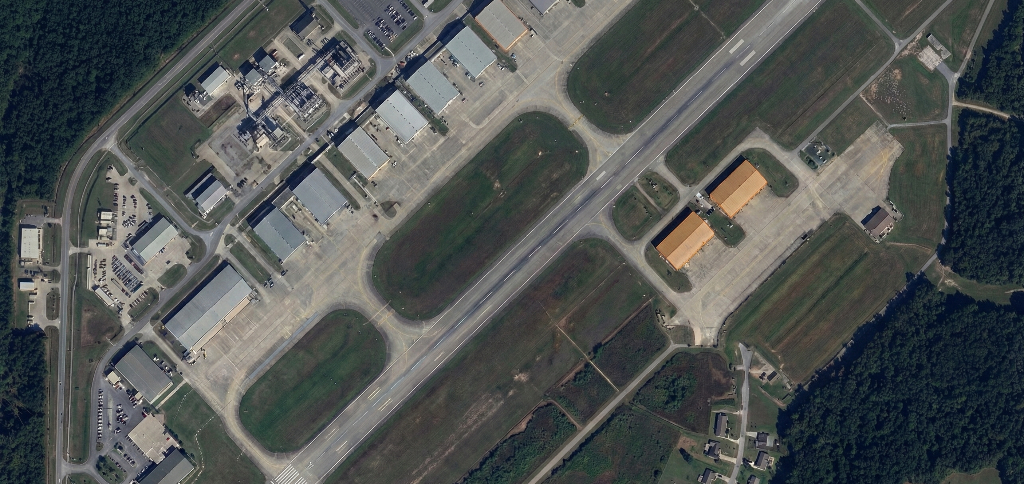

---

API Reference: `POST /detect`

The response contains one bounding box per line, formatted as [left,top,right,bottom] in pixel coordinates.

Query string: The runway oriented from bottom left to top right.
[268,0,821,484]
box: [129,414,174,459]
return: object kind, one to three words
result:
building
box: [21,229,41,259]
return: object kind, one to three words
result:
building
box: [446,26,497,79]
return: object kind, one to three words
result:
hangar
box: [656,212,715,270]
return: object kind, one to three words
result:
hangar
